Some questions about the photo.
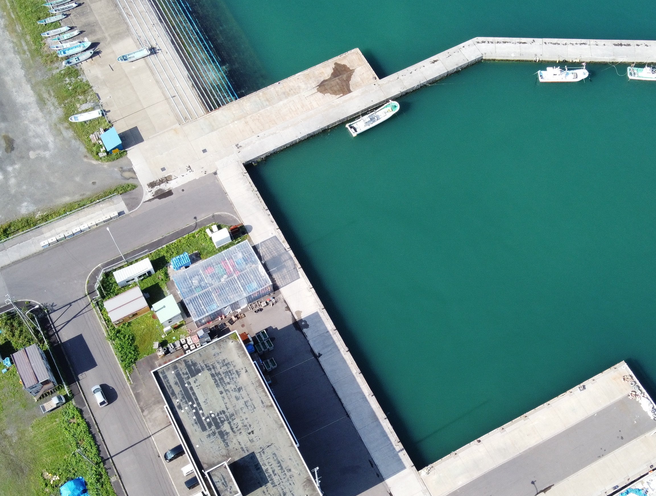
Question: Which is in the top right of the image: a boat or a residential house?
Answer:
boat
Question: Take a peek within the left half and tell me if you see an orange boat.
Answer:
No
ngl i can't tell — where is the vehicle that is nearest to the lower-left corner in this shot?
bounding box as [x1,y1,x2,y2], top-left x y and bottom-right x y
[41,394,64,411]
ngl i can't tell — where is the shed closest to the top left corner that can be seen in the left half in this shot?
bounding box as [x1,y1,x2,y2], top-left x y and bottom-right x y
[98,126,127,158]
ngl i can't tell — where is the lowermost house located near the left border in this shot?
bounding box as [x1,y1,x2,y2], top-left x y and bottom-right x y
[12,344,62,407]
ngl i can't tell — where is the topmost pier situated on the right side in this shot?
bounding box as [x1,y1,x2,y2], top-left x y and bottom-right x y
[219,38,656,171]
